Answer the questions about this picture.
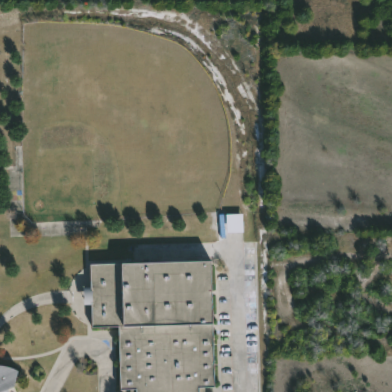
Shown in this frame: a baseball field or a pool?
baseball field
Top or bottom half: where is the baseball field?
top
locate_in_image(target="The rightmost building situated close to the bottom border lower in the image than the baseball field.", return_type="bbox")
[84,261,214,392]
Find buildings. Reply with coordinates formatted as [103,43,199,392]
[84,261,214,392]
[0,366,18,392]
[219,213,244,238]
